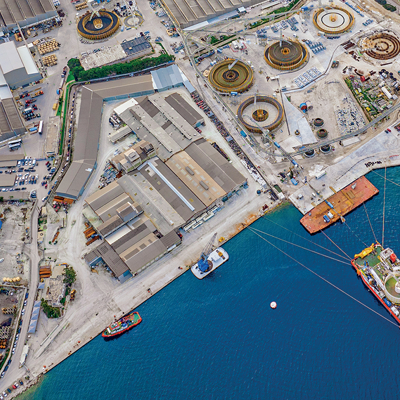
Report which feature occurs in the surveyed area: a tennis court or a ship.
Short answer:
ship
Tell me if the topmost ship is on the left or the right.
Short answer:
right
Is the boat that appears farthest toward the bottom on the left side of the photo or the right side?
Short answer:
left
